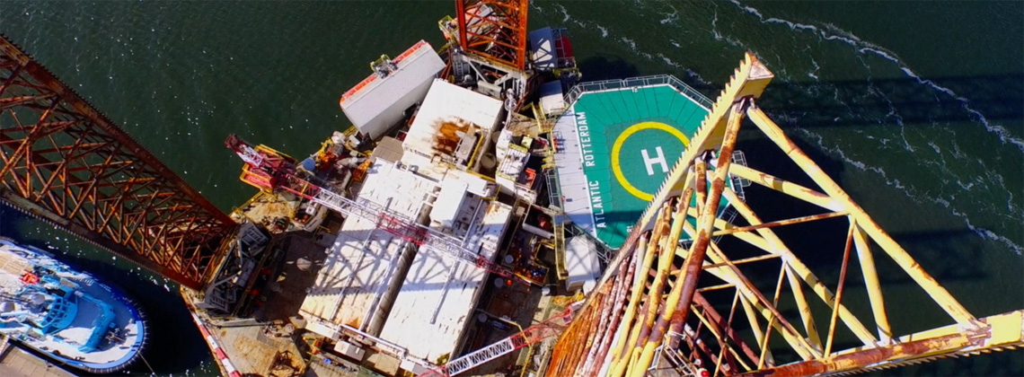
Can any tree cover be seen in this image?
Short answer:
No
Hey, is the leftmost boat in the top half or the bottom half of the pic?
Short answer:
bottom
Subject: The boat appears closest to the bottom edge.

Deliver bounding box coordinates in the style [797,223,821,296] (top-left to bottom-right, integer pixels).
[0,228,151,367]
